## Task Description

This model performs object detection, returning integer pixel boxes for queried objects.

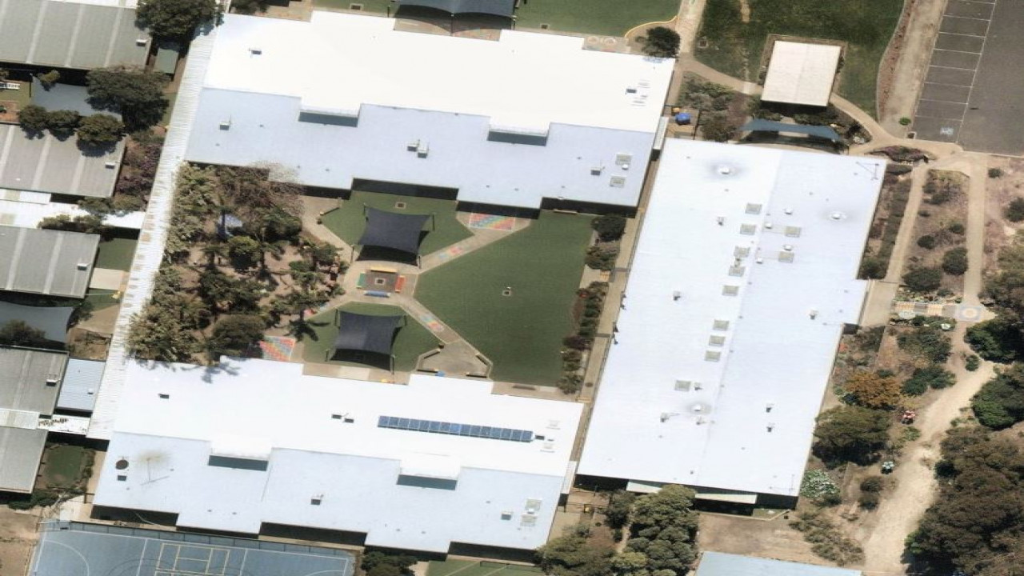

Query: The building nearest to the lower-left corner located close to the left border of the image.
[0,426,49,499]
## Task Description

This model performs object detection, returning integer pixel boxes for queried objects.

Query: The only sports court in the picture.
[31,527,355,576]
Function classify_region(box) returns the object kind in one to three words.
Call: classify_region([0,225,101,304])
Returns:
building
